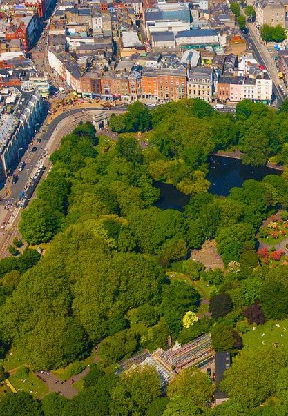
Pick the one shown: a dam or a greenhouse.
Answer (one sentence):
Looking from above, you can make out a greenhouse.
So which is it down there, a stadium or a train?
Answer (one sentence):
The one in the frame is a train.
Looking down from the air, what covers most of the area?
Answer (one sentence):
What you mostly see from above here is trees.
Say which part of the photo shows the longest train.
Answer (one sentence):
The longest train sits in the left section of the image.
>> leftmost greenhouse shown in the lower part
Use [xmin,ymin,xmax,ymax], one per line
[119,335,214,391]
